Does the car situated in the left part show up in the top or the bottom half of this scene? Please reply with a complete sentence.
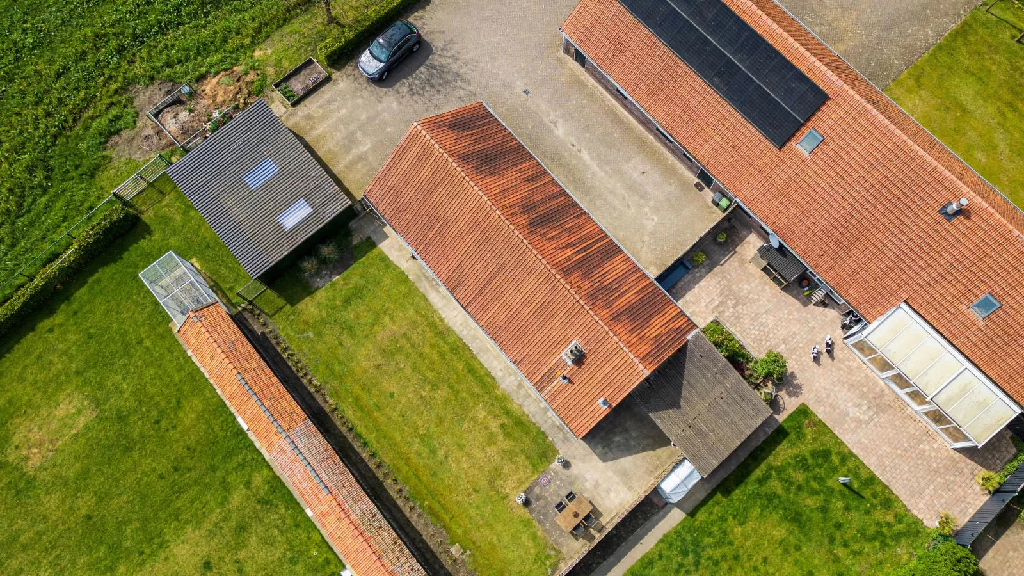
The car situated in the left part sits in the top half of the picture.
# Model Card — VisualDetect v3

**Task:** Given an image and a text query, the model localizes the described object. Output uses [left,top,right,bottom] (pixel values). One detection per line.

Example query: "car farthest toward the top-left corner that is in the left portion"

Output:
[360,22,426,82]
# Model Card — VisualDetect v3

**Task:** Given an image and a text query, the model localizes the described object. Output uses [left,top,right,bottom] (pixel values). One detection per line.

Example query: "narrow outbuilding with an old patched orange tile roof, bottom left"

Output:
[175,300,432,576]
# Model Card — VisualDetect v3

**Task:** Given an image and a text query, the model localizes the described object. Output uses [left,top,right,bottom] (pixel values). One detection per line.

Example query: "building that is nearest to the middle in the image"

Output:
[362,101,708,442]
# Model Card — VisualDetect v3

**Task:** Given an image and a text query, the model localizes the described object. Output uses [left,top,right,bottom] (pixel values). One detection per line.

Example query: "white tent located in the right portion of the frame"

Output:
[652,460,704,509]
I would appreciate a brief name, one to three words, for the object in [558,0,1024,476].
house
